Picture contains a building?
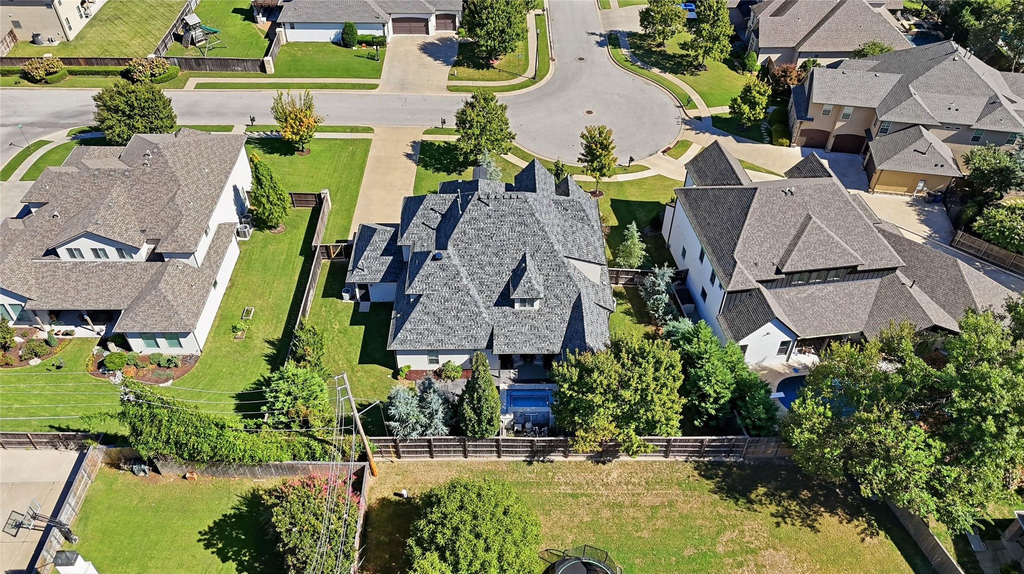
Yes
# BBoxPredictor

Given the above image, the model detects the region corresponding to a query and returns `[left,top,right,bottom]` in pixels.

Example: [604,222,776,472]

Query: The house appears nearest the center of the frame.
[345,158,614,406]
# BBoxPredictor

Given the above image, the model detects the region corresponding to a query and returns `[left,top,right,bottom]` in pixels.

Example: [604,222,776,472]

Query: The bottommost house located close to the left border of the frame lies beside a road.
[0,116,254,354]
